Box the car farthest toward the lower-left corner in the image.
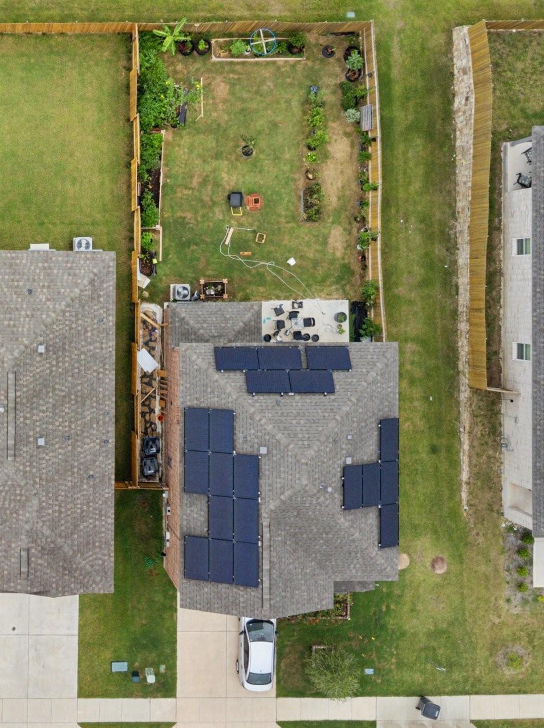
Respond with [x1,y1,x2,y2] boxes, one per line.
[237,616,282,689]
